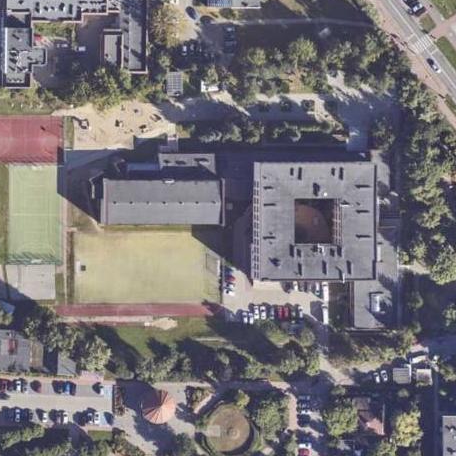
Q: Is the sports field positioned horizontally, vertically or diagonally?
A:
horizontally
